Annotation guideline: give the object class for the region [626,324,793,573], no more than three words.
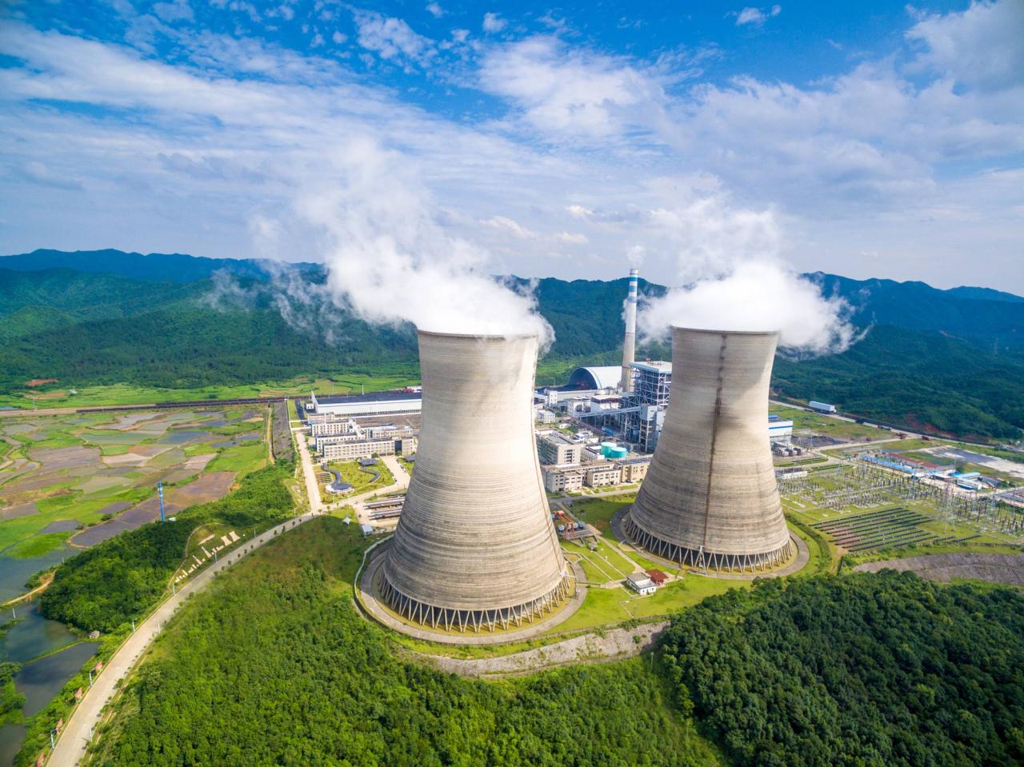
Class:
cooling tower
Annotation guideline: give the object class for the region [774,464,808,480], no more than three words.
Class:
shed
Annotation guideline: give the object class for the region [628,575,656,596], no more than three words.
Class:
house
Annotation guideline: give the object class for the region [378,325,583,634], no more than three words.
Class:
cooling tower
